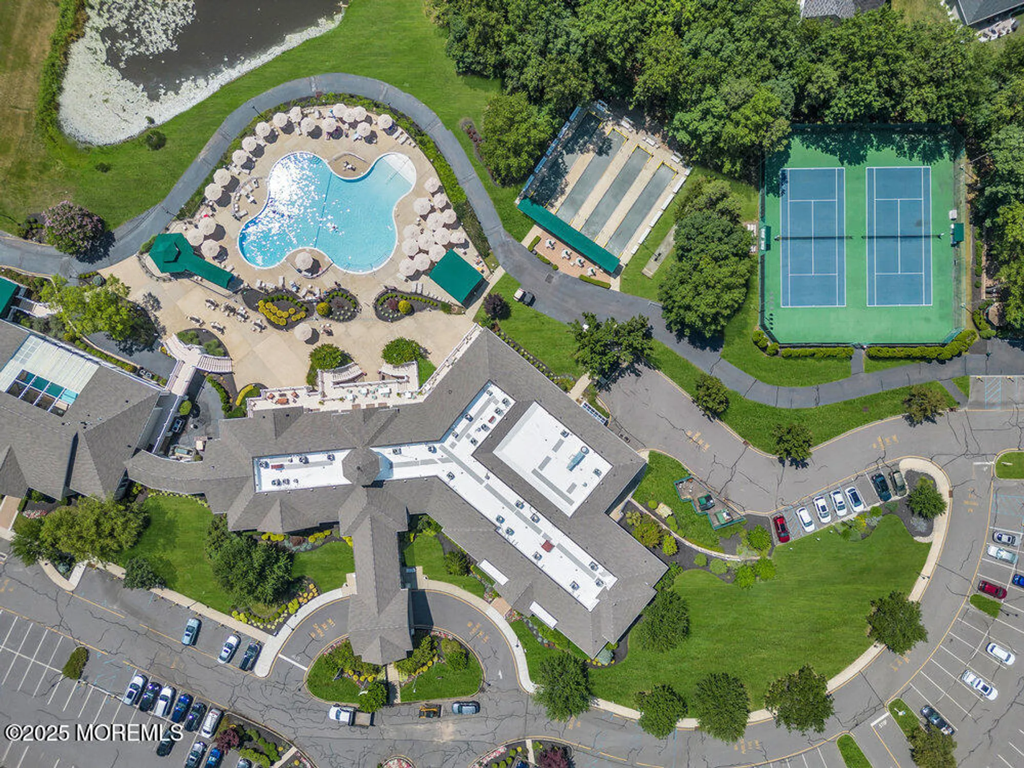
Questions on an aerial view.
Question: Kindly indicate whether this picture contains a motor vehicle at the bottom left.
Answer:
Yes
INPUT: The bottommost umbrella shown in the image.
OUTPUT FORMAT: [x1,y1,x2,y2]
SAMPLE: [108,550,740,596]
[294,323,313,341]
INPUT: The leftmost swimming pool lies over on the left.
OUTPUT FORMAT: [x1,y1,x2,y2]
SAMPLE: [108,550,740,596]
[25,374,76,404]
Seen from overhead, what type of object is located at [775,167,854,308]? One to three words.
tennis court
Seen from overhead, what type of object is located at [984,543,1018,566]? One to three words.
car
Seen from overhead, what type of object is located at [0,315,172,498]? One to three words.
building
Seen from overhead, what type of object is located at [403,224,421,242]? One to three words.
umbrella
